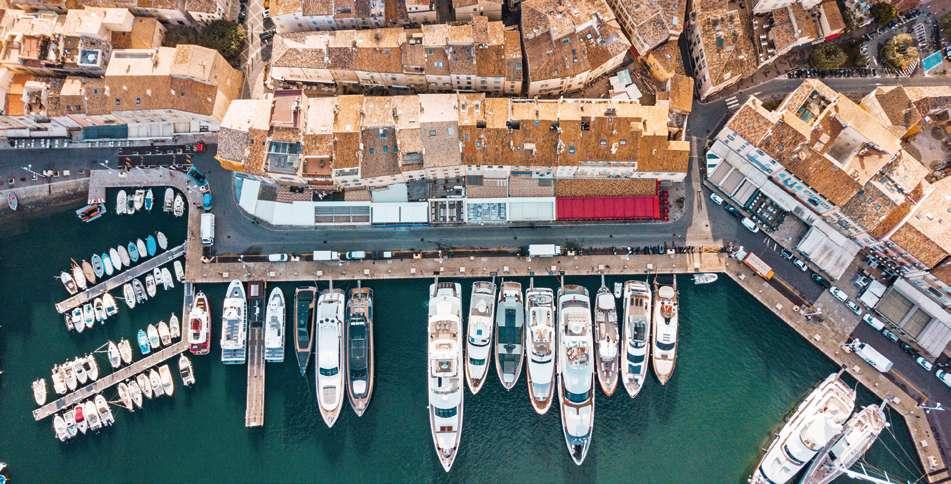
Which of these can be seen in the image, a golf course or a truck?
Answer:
truck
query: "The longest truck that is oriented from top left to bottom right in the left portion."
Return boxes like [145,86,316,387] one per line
[185,164,208,190]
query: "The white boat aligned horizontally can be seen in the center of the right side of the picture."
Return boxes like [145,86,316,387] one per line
[691,272,719,284]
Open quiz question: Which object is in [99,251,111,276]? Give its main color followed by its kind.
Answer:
white boat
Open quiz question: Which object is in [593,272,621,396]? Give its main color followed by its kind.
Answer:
white boat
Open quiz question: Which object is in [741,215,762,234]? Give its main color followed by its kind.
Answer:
white vehicle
